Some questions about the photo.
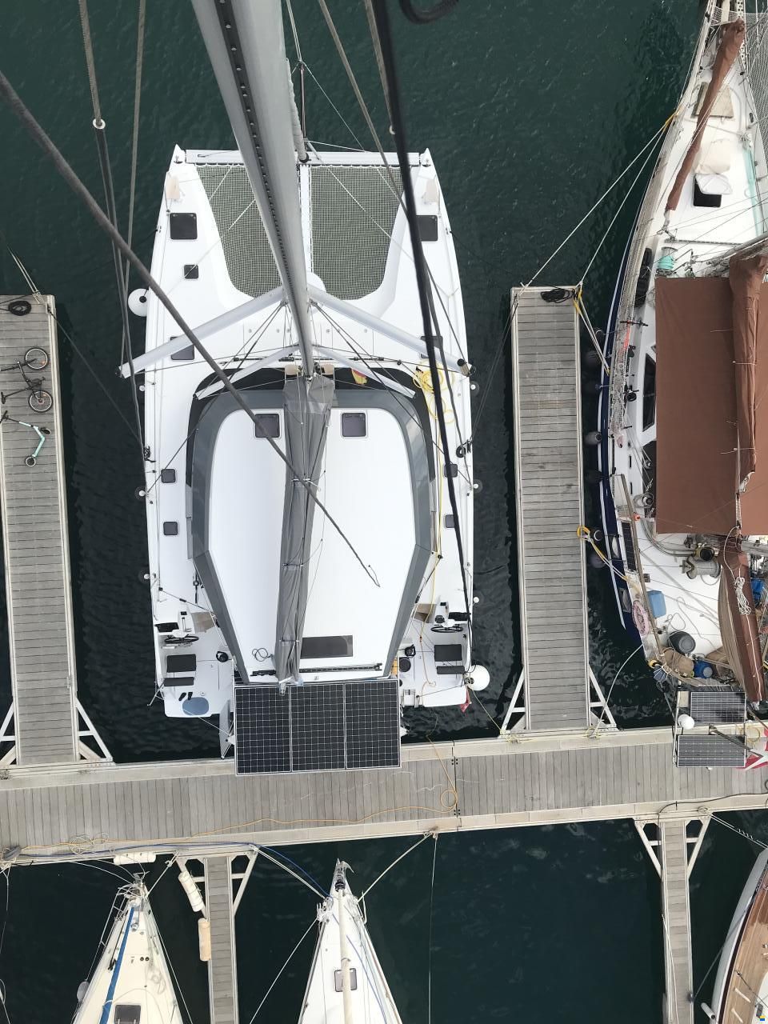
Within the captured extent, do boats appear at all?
Yes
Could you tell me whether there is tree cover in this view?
No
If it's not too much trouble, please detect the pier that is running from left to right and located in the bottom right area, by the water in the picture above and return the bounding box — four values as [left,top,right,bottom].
[451,714,768,831]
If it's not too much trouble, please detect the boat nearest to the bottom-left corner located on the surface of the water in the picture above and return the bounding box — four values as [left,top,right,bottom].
[72,872,196,1024]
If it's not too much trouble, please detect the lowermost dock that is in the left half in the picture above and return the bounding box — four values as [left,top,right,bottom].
[175,849,258,1024]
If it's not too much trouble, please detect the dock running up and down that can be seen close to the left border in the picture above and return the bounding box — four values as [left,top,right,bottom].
[0,292,113,767]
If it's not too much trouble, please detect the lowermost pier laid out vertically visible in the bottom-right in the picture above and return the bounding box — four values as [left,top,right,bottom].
[634,814,711,1024]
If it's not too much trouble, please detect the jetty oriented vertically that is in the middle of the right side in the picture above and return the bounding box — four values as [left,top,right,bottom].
[501,284,617,733]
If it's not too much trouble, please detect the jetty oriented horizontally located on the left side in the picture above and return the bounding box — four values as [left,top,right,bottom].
[0,733,458,868]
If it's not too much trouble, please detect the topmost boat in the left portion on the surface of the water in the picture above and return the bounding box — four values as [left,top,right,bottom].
[76,0,475,773]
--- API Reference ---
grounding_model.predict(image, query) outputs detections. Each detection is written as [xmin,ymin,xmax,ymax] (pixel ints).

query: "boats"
[72,872,196,1024]
[712,853,768,1024]
[595,0,768,773]
[294,856,405,1024]
[76,0,475,773]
